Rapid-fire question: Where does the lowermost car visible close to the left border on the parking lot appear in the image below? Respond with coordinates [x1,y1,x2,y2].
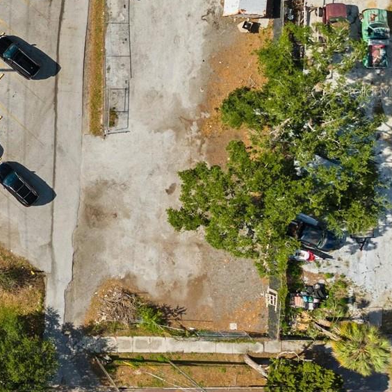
[0,162,42,210]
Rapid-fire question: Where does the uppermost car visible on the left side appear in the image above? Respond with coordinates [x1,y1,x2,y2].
[0,35,45,80]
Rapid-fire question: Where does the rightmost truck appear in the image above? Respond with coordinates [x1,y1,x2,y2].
[362,9,392,69]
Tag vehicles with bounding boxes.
[326,0,355,50]
[362,9,392,69]
[0,35,45,80]
[0,162,42,210]
[295,212,352,251]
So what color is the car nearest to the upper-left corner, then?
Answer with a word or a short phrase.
black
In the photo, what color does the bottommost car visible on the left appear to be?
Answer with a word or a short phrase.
black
